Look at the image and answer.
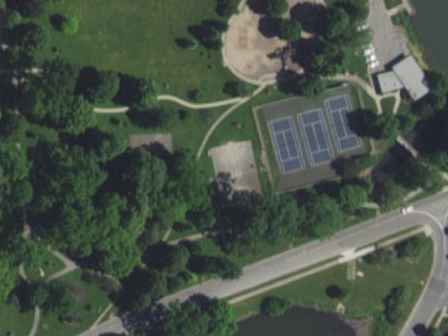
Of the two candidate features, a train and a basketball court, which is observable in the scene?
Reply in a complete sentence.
Visible in the photo is a basketball court.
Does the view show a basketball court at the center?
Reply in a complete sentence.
Yes, there is a basketball court at the center.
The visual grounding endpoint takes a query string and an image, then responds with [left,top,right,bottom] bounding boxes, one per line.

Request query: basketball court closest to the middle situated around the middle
[210,141,261,204]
